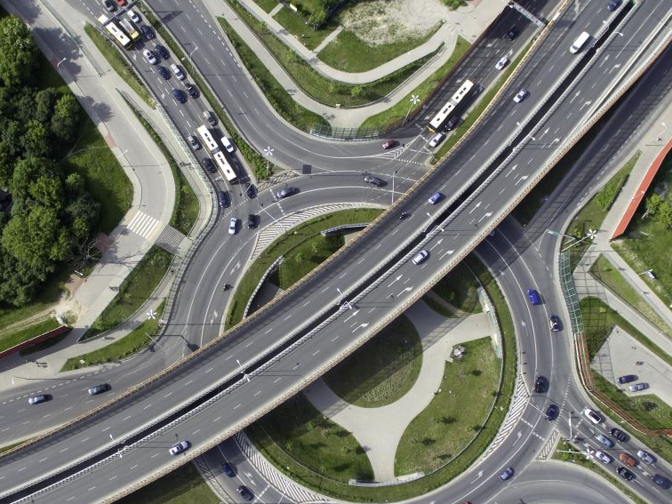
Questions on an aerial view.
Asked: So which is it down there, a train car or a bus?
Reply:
bus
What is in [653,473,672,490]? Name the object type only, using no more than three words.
car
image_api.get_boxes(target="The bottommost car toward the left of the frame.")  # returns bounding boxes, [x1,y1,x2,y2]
[237,484,252,502]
